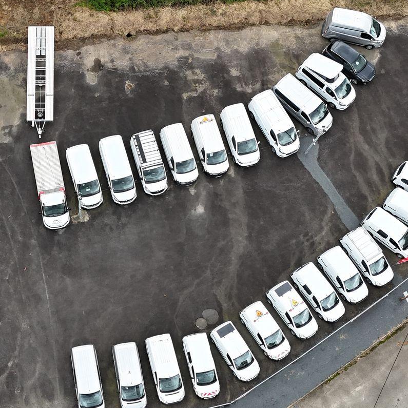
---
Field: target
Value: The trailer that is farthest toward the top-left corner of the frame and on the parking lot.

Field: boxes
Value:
[26,26,54,138]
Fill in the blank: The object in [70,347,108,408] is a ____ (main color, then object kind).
white vehicle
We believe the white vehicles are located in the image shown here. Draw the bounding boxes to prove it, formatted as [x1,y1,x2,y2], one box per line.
[98,138,138,205]
[217,105,261,168]
[157,124,199,187]
[359,209,408,263]
[70,347,108,408]
[391,163,408,194]
[180,334,222,399]
[29,141,72,230]
[236,301,291,363]
[246,94,299,159]
[128,129,169,197]
[65,144,104,212]
[263,281,319,343]
[380,189,408,229]
[338,228,394,288]
[143,334,186,406]
[188,115,231,179]
[290,52,354,113]
[288,265,344,325]
[207,320,261,383]
[110,341,150,408]
[313,247,369,307]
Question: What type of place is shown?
parking lot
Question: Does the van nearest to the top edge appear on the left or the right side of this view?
right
